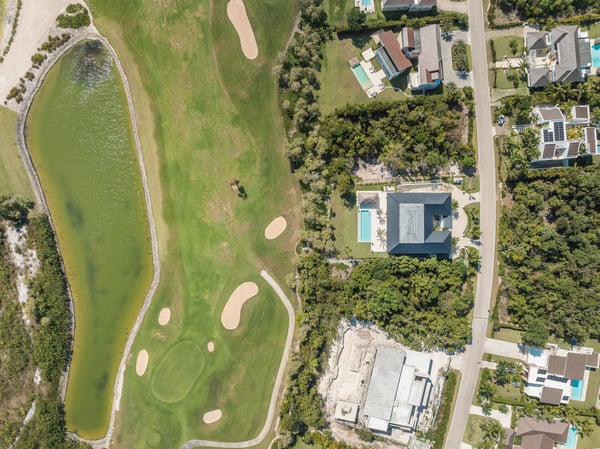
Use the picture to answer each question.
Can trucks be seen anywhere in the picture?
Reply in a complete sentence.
No, no truck can be seen from above.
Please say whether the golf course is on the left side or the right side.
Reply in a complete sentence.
The golf course appears in the left half of the scene.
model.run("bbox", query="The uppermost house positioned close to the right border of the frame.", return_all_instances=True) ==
[523,26,589,89]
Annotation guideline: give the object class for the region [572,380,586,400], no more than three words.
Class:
swimming pool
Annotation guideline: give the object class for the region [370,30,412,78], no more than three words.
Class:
house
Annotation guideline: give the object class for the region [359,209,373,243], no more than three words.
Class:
swimming pool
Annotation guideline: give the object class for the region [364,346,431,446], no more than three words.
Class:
house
